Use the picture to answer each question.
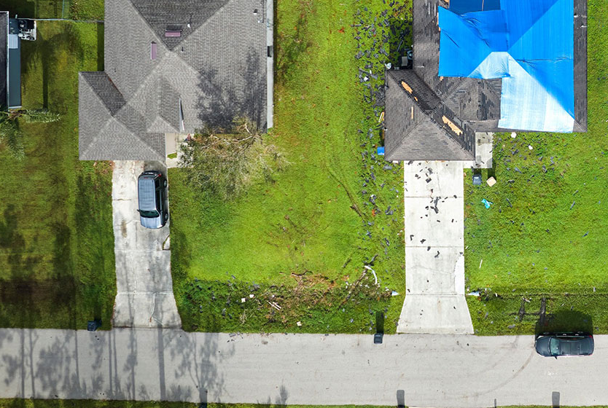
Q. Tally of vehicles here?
two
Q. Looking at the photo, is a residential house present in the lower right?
No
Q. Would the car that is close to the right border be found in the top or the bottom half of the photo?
bottom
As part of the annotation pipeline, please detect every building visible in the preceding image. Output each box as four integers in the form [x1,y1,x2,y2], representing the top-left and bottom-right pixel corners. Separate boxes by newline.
[385,0,587,161]
[78,0,275,160]
[0,10,27,124]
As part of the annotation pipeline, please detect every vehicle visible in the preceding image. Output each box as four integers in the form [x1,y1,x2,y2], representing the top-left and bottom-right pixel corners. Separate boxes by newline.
[535,331,593,361]
[135,170,167,227]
